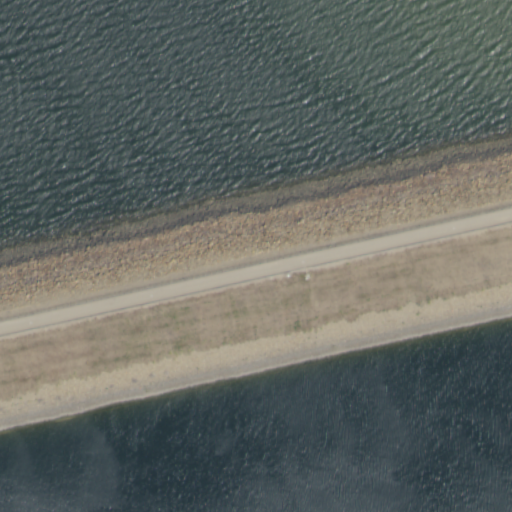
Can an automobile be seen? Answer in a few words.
No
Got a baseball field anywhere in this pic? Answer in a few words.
No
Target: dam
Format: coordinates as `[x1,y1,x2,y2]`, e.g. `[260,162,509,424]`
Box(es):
[0,126,512,448]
